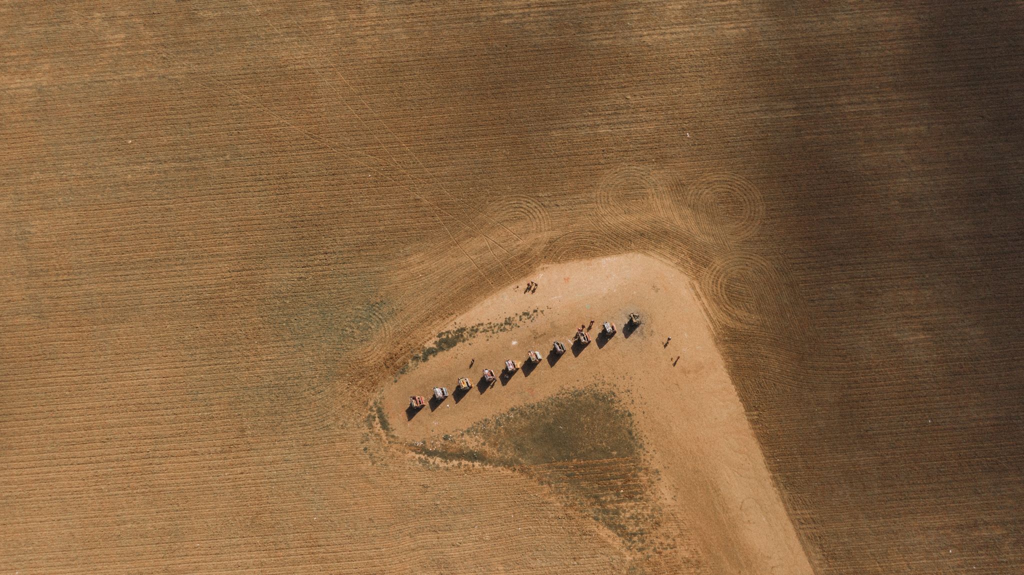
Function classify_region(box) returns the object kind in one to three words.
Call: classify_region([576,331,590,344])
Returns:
vehicle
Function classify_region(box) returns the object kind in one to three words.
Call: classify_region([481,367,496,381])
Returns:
car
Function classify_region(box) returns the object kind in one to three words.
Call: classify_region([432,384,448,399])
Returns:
car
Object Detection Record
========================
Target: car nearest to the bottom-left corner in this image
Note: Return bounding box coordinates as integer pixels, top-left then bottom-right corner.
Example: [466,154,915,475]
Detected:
[409,393,426,408]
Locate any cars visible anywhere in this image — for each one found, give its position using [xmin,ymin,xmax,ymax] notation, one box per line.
[576,331,590,344]
[432,384,448,399]
[481,367,496,381]
[602,320,615,334]
[526,348,541,362]
[504,357,519,372]
[456,375,472,389]
[409,393,426,408]
[552,339,566,353]
[629,311,640,324]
